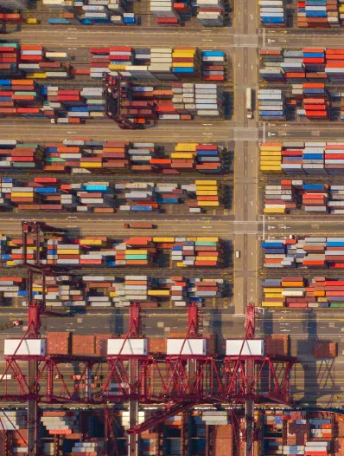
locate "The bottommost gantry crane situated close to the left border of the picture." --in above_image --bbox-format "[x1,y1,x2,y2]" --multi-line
[0,303,109,456]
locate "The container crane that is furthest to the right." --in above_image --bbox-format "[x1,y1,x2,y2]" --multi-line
[222,303,306,456]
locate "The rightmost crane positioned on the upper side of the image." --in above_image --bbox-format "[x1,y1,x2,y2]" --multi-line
[101,75,141,131]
